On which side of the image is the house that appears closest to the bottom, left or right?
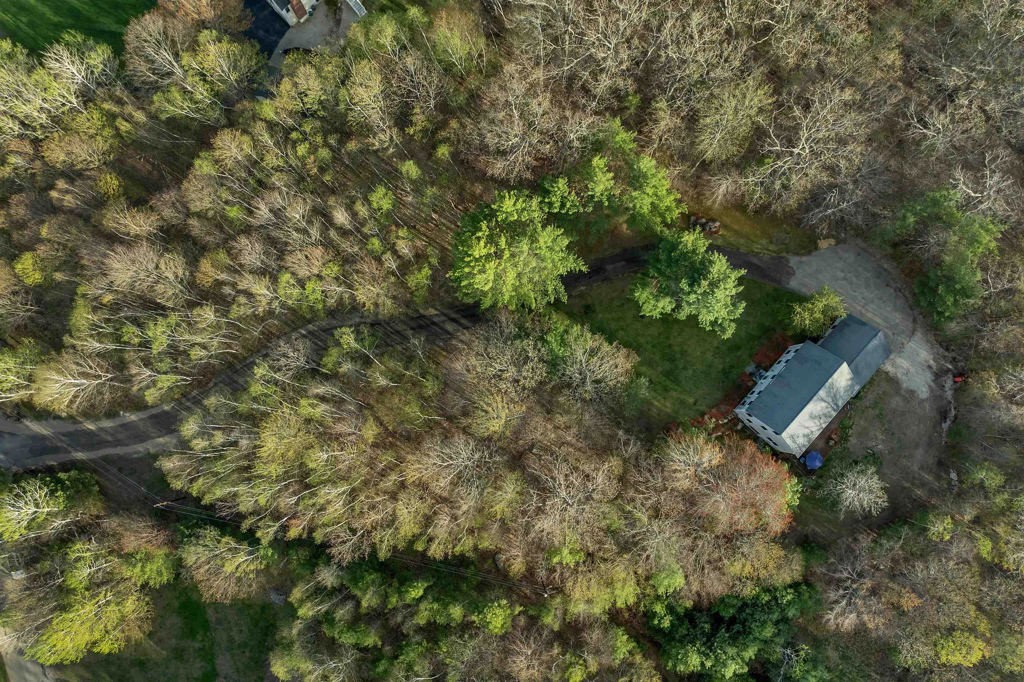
right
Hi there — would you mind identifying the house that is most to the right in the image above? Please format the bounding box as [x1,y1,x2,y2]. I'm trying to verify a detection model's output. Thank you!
[734,311,898,461]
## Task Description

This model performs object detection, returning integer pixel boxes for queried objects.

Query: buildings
[268,0,320,27]
[734,311,898,461]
